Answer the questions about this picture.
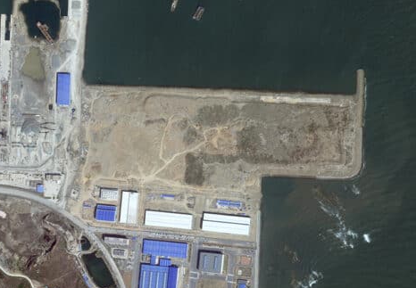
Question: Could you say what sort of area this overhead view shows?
port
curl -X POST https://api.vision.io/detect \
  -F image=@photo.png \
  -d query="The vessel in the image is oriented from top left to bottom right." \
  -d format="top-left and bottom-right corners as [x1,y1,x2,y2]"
[37,22,54,42]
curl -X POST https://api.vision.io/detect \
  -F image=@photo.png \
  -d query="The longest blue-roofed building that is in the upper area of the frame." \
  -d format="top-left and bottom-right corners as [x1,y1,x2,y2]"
[57,73,71,106]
